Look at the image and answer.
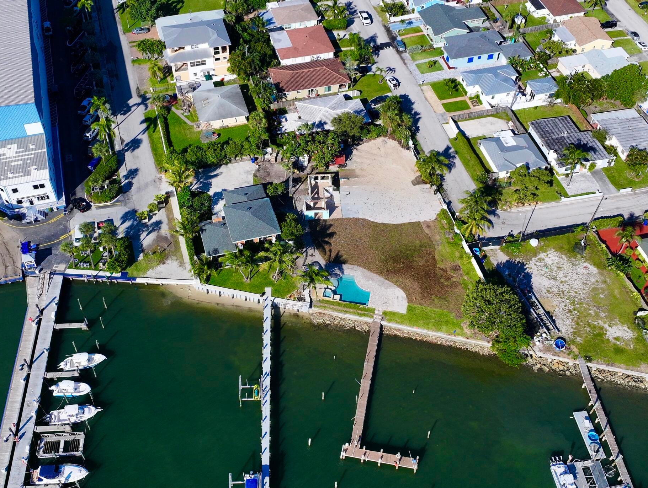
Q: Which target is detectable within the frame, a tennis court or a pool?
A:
pool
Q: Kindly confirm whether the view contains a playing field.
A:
No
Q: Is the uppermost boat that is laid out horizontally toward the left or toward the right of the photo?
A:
left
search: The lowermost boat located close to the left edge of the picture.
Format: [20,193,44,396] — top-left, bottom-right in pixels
[26,463,91,487]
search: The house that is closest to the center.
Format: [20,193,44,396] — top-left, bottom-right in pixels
[199,185,281,262]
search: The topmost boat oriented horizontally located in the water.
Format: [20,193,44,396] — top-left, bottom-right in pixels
[58,352,108,372]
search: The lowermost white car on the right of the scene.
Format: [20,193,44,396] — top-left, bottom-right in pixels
[385,74,401,88]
